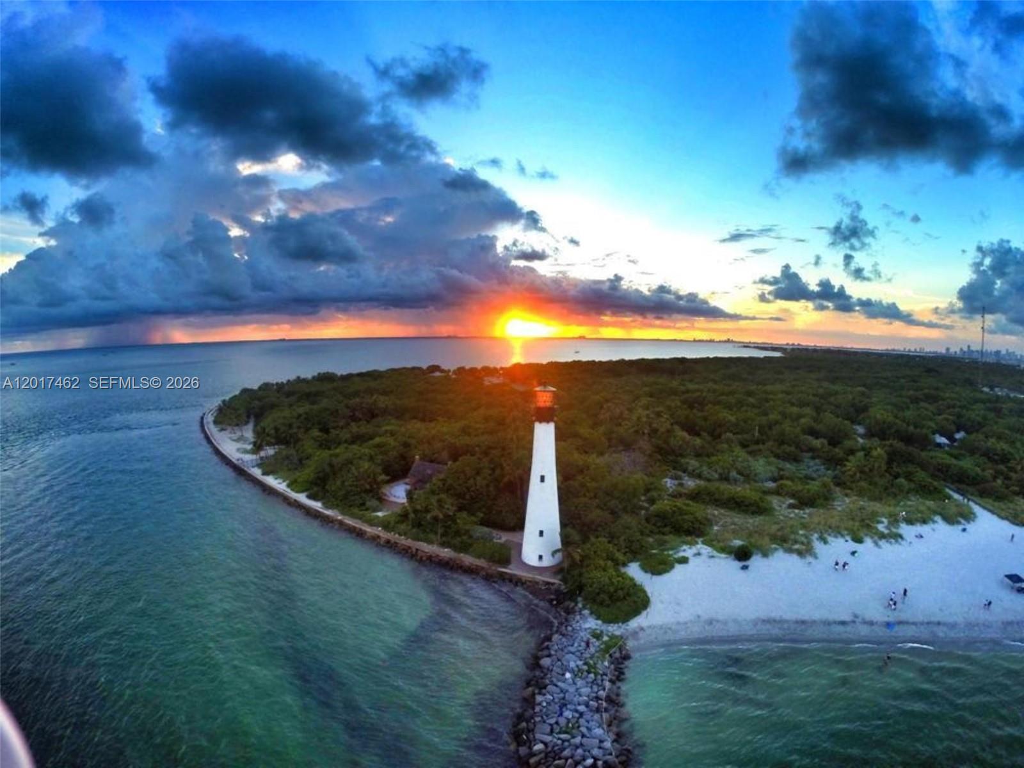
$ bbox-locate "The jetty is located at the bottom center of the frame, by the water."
[509,589,638,768]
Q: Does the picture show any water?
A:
Yes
